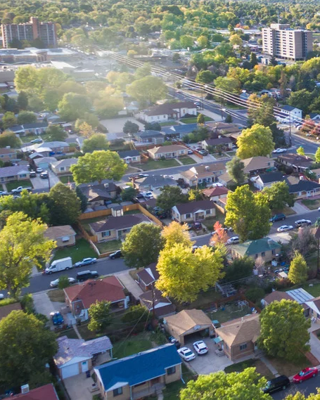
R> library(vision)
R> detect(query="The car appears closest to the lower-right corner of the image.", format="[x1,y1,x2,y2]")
[290,368,320,386]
